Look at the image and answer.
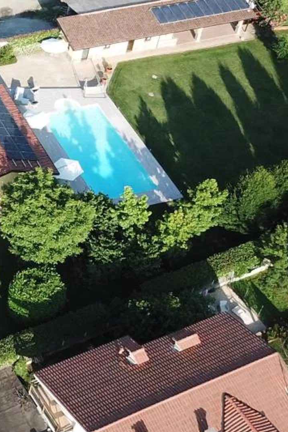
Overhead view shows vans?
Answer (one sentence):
No, the picture doesn't show any van.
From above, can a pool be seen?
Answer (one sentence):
Yes, looking at the shot, I can spot a pool.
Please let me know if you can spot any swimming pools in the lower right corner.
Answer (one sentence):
No, no swimming pool can be made out in the lower right corner.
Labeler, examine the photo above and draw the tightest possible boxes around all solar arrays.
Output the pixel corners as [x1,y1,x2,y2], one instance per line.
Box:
[152,0,251,25]
[0,96,37,161]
